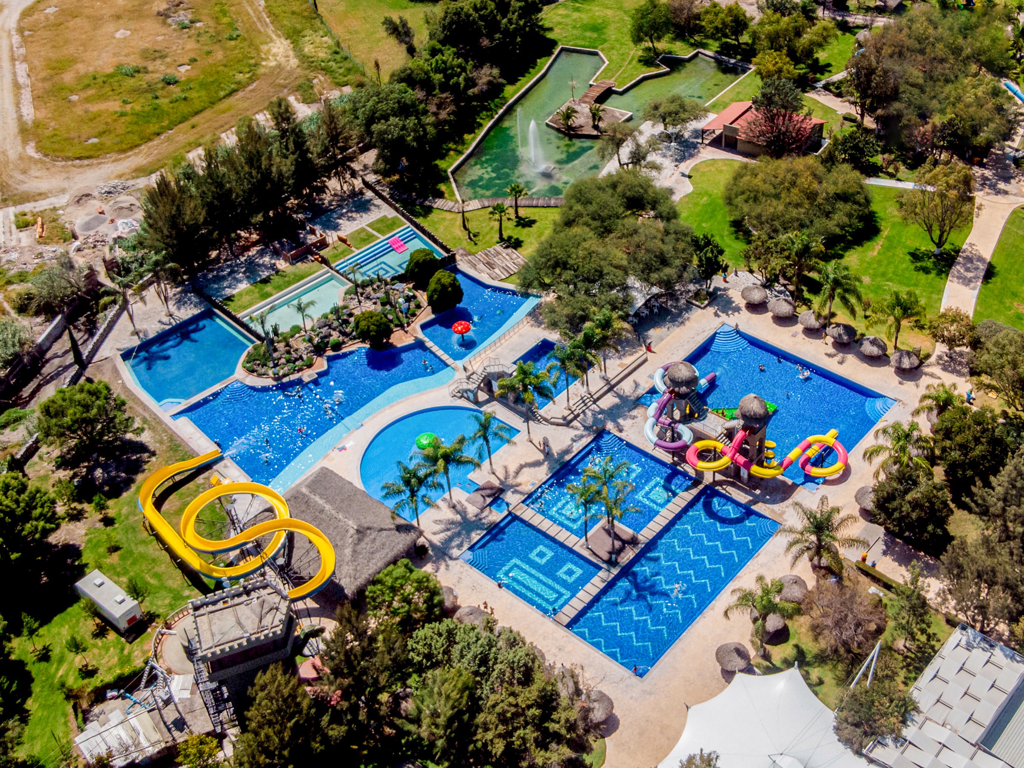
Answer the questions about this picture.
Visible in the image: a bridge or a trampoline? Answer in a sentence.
The image shows a bridge.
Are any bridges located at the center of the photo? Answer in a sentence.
Yes, a bridge is visible at the center of the photo.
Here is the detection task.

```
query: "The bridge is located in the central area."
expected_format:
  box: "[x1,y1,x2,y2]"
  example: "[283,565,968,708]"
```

[451,360,516,400]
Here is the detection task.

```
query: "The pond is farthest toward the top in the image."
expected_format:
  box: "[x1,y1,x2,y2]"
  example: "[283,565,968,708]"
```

[449,47,756,204]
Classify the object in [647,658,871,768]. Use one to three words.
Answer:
tent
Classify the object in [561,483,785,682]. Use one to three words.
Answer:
swimming pool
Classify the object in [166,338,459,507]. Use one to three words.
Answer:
swimming pool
